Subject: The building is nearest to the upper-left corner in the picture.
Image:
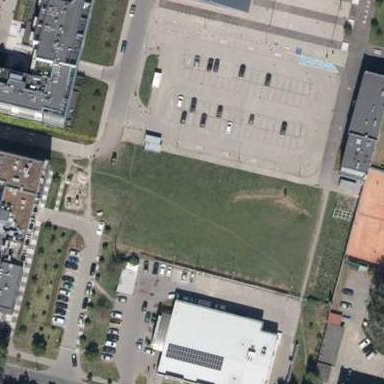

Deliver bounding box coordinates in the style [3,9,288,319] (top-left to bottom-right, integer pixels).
[0,0,101,117]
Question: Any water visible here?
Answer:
No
